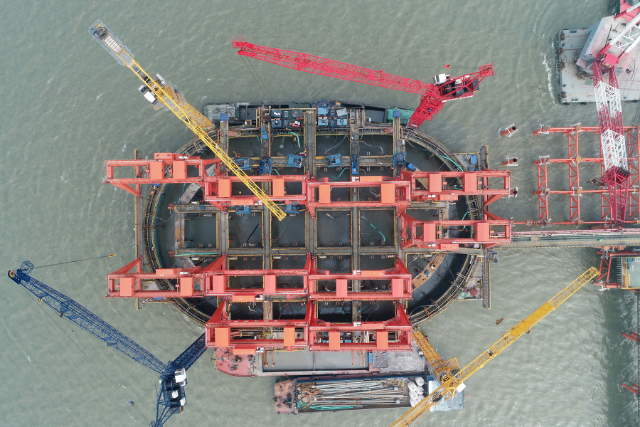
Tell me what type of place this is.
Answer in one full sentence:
What you see here is a port.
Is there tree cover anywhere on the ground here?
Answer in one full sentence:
No, the picture contains no tree cover.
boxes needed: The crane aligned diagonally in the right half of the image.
[388,266,599,427]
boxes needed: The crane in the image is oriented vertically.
[553,1,640,229]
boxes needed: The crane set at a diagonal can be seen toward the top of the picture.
[83,16,288,220]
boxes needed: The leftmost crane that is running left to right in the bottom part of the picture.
[105,253,218,304]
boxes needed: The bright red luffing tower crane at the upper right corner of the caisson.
[229,24,500,133]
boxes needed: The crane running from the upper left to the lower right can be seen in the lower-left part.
[0,250,210,427]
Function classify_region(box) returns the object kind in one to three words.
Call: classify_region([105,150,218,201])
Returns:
container crane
